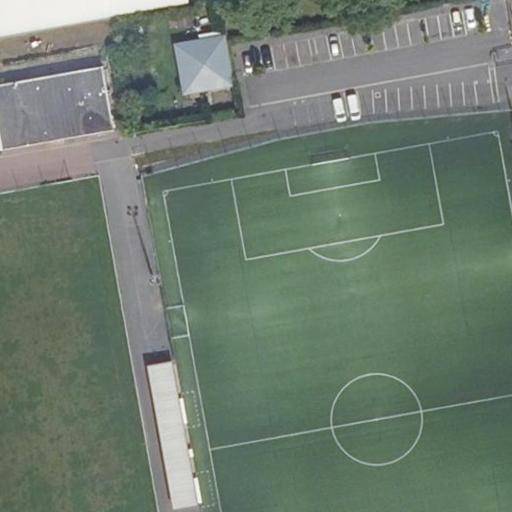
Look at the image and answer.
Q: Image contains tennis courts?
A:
No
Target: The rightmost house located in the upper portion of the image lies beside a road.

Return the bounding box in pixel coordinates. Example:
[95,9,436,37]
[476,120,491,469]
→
[174,32,233,95]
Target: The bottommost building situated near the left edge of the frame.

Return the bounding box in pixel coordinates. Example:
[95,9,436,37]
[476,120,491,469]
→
[0,68,113,150]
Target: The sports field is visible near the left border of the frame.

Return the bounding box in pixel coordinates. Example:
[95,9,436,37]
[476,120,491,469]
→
[0,176,161,512]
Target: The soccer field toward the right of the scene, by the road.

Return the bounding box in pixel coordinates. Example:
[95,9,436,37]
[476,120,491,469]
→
[142,113,512,512]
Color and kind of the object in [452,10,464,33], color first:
white vehicle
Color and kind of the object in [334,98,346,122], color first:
white vehicle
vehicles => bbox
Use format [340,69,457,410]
[348,96,360,121]
[262,46,274,68]
[334,98,346,122]
[452,10,464,33]
[250,48,261,69]
[242,56,252,76]
[329,35,340,58]
[465,6,476,28]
